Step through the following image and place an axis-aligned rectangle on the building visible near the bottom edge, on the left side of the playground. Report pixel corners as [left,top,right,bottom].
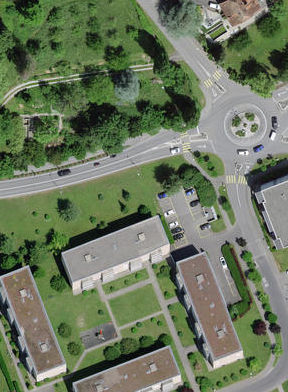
[0,266,66,382]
